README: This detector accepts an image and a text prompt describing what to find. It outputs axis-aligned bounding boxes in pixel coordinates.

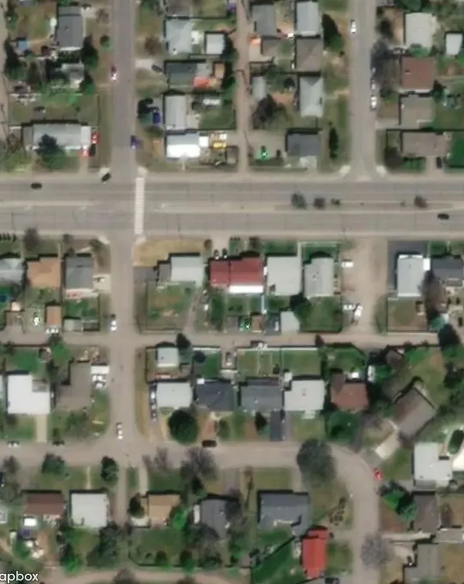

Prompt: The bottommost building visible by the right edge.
[405,542,441,584]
